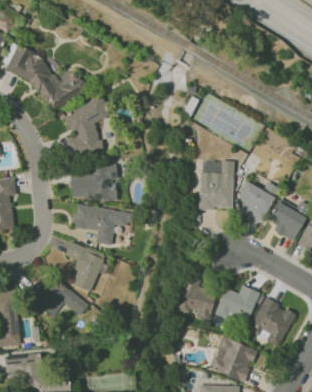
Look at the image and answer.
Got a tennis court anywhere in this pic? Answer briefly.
Yes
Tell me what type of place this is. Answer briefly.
residential area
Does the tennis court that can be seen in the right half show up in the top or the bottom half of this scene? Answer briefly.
top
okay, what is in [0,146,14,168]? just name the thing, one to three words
swimming pool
